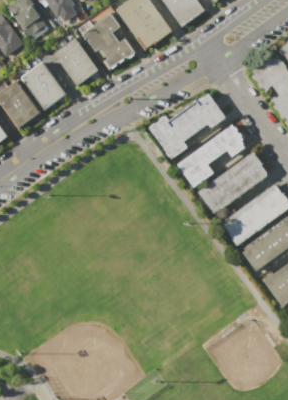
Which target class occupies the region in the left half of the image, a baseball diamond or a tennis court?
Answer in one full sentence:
Looking in the left half of the image, you will find a baseball diamond.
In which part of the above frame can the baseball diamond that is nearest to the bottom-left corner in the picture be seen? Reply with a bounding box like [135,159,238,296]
[26,322,146,400]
